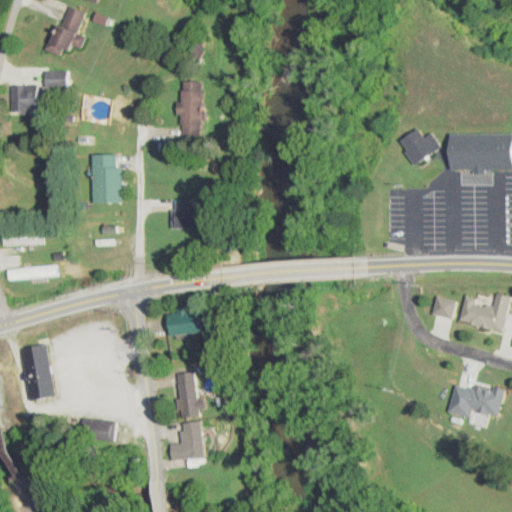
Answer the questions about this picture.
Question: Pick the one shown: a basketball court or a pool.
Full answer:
I can see a pool in this picture.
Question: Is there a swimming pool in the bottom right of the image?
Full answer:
No, in the bottom right of the image there is no swimming pool.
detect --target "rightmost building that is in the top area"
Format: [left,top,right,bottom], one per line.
[447,133,512,176]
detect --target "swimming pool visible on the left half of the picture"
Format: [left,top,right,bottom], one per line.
[82,95,112,124]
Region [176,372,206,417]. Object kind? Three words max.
house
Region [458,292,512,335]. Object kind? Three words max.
house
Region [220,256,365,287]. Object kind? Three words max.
bridge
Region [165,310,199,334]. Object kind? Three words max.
building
